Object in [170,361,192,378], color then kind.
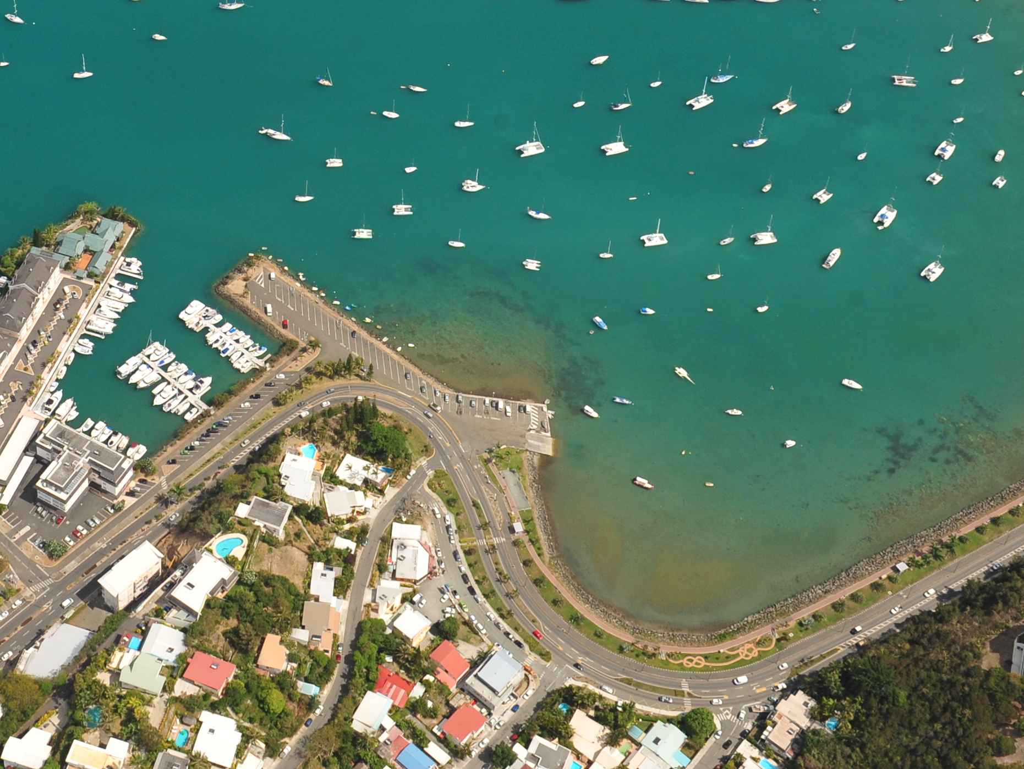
white boat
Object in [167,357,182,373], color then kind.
white boat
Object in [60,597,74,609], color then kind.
white vehicle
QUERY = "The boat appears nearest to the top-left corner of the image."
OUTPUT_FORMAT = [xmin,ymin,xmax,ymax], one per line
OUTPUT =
[3,1,25,23]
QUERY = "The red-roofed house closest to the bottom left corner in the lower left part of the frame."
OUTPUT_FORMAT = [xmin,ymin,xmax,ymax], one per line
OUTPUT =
[183,651,234,697]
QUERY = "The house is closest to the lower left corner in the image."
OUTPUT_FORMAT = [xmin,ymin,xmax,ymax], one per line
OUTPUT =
[1,728,52,769]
